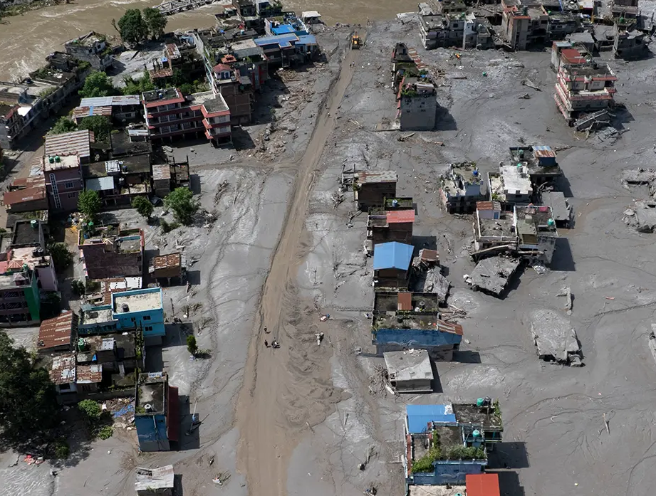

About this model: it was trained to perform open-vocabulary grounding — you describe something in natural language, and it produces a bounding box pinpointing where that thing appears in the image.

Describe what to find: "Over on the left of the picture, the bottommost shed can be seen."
[136,464,177,496]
